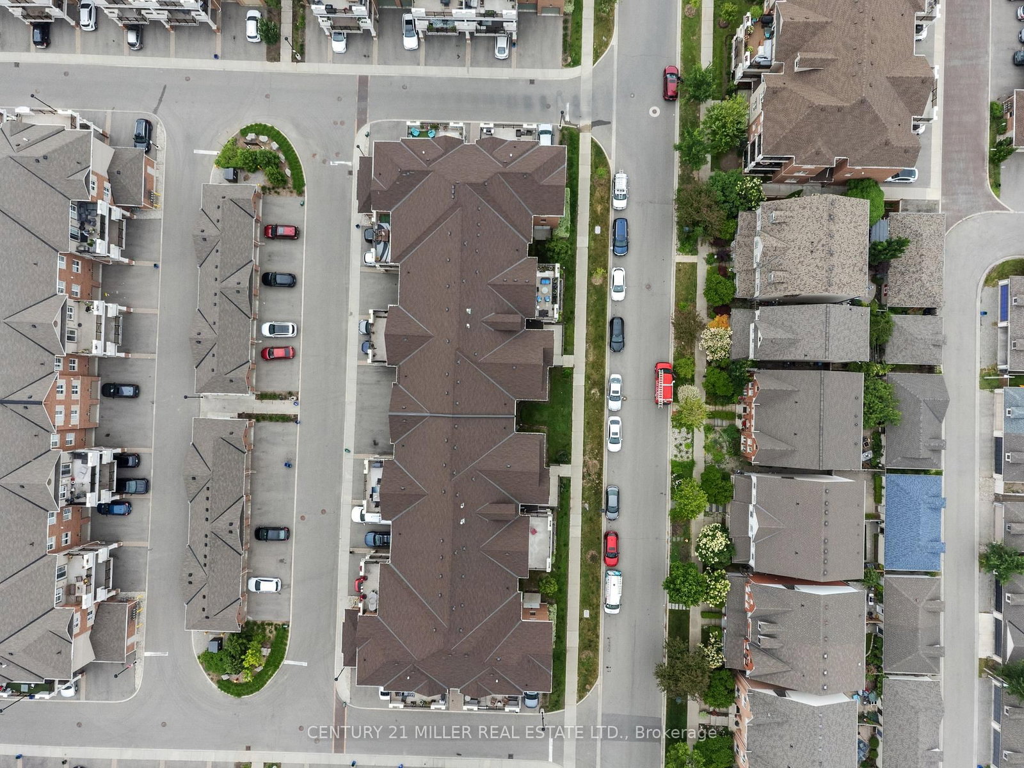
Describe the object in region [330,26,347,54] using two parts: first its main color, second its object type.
white car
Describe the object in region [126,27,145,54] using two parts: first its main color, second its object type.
gray car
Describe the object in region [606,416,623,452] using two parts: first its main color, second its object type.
white car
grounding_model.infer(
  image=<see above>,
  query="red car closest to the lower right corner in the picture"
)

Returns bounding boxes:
[604,531,621,567]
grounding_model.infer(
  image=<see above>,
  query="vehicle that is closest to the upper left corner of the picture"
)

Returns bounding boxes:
[31,27,53,56]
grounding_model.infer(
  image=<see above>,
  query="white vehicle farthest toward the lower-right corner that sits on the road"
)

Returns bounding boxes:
[605,569,624,615]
